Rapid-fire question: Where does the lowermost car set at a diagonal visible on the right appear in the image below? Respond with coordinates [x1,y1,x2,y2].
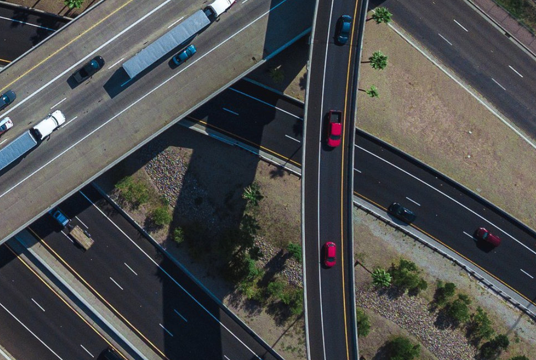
[474,227,500,247]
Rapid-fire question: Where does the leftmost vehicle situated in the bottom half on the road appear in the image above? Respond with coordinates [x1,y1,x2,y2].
[47,206,91,247]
